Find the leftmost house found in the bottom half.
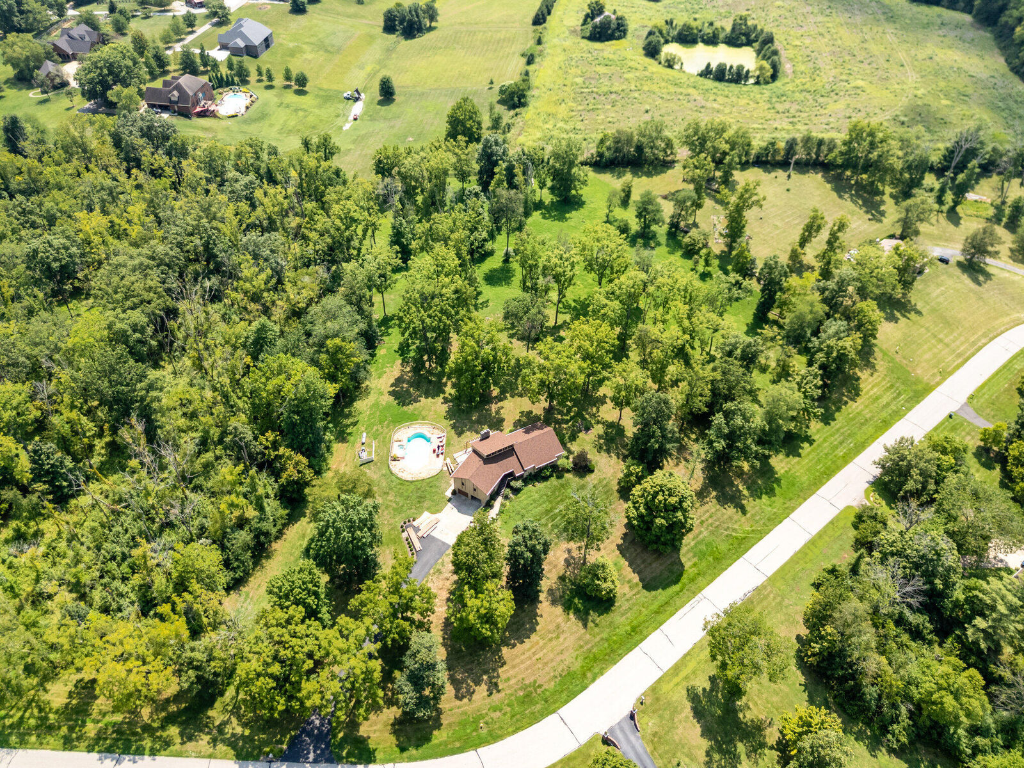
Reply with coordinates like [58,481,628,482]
[450,423,566,508]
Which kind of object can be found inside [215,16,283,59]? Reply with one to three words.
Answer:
house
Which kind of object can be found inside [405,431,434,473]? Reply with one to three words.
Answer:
swimming pool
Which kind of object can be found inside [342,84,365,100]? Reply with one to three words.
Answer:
vehicle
